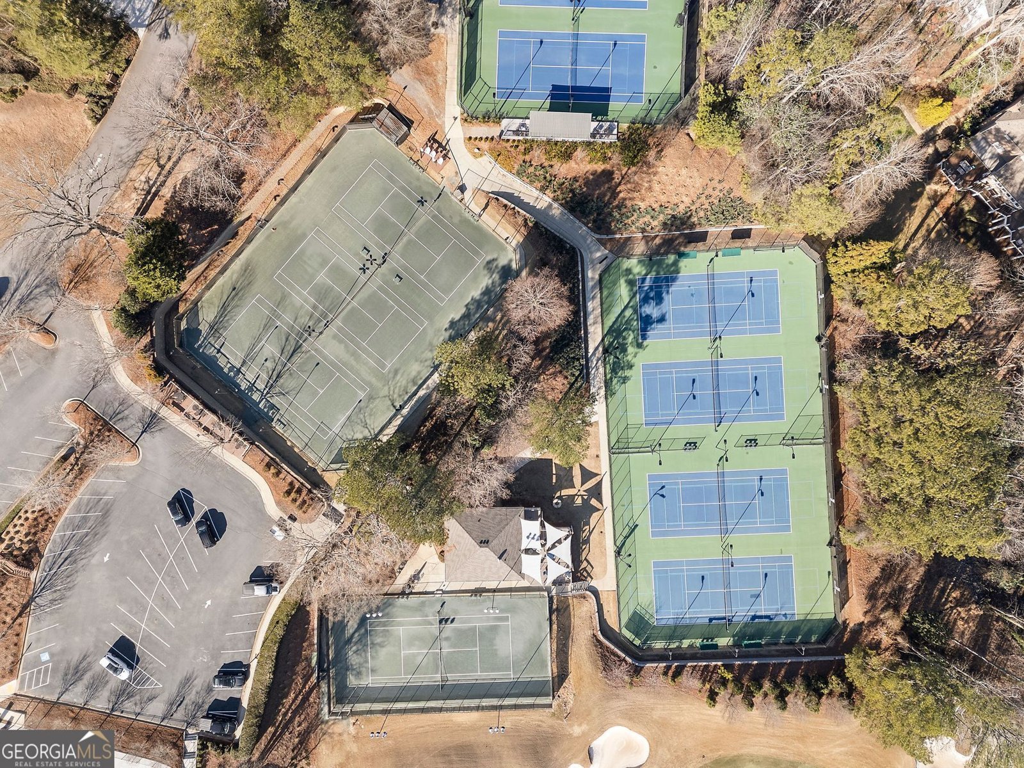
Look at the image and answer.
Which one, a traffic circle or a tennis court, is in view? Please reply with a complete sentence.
The one in the frame is a tennis court.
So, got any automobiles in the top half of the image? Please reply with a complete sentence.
No, no automobile appears in the top half of the image.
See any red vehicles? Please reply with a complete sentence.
No, I find no red vehicle anywhere in the image.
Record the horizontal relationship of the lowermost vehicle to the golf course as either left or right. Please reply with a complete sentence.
In the image, the lowermost vehicle sits on the left side of the golf course.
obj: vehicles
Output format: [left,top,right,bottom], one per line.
[241,581,281,597]
[213,673,246,690]
[166,498,190,528]
[99,653,131,679]
[195,517,217,550]
[198,716,238,736]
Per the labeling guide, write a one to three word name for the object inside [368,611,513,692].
tennis court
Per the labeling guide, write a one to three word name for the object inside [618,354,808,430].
tennis court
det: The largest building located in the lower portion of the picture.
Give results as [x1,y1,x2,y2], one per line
[445,506,525,582]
